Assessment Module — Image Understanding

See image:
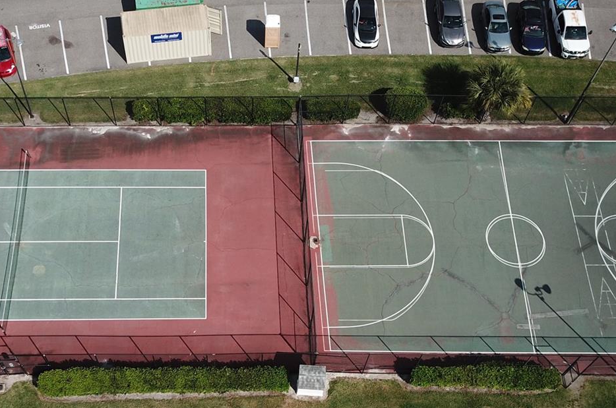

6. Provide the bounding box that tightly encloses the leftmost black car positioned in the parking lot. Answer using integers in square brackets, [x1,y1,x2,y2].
[349,0,381,49]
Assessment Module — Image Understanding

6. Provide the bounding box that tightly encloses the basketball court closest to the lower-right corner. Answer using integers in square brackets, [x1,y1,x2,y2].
[298,126,616,375]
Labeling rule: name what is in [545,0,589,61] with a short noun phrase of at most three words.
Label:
truck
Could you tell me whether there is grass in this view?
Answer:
Yes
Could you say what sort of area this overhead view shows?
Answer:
sports ground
